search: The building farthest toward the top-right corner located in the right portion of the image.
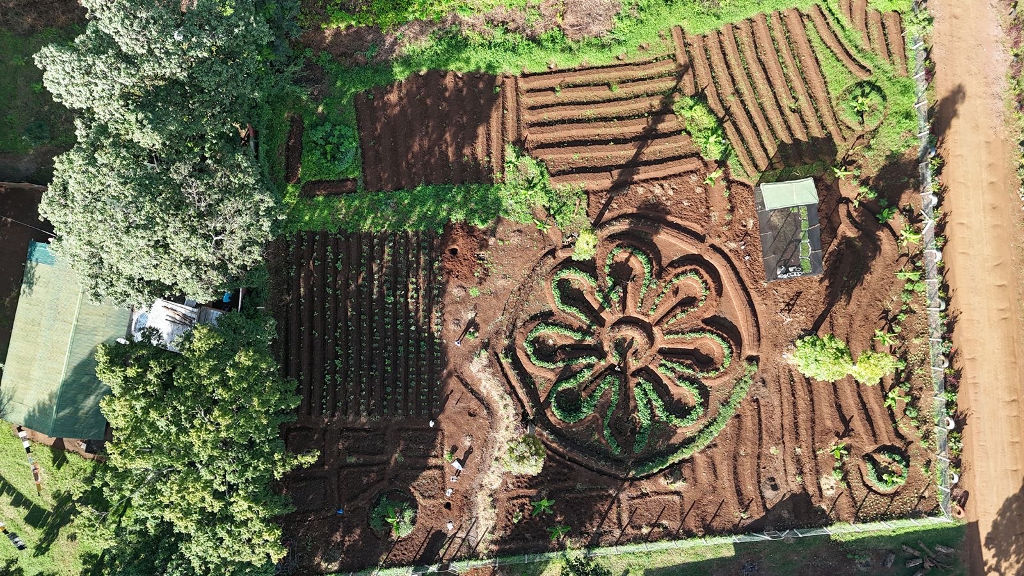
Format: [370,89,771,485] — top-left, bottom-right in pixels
[754,170,827,281]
